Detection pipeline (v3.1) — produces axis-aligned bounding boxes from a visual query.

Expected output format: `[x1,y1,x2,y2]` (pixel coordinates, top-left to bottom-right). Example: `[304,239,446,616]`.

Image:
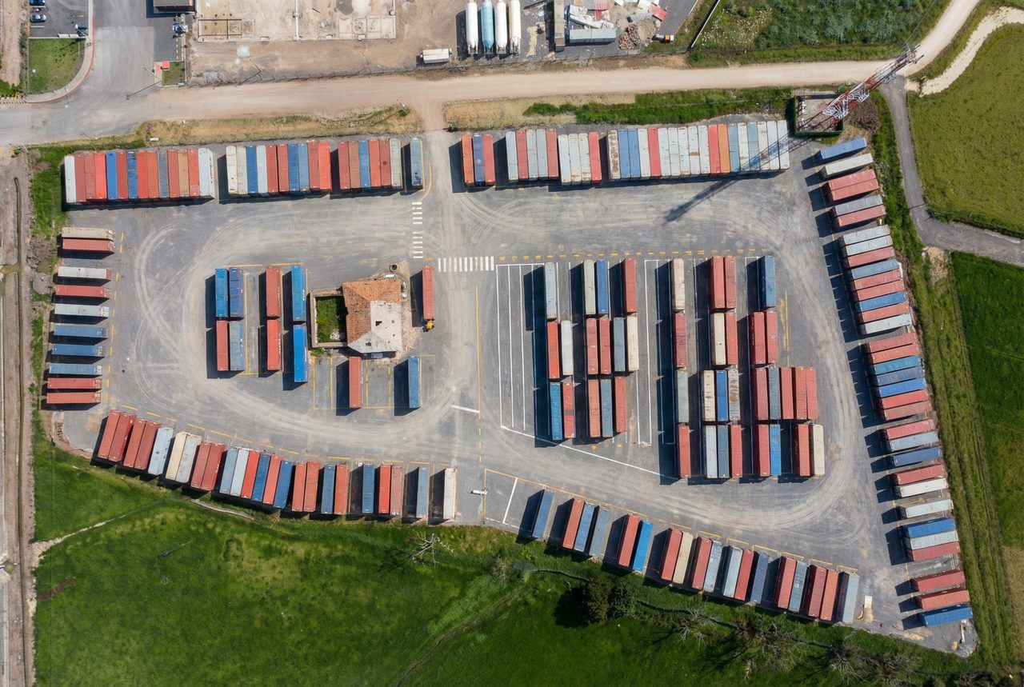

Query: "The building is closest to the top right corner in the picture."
[568,4,615,29]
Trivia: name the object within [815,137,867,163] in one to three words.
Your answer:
shipping container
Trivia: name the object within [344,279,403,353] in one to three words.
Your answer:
house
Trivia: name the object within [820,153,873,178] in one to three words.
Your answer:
shipping container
